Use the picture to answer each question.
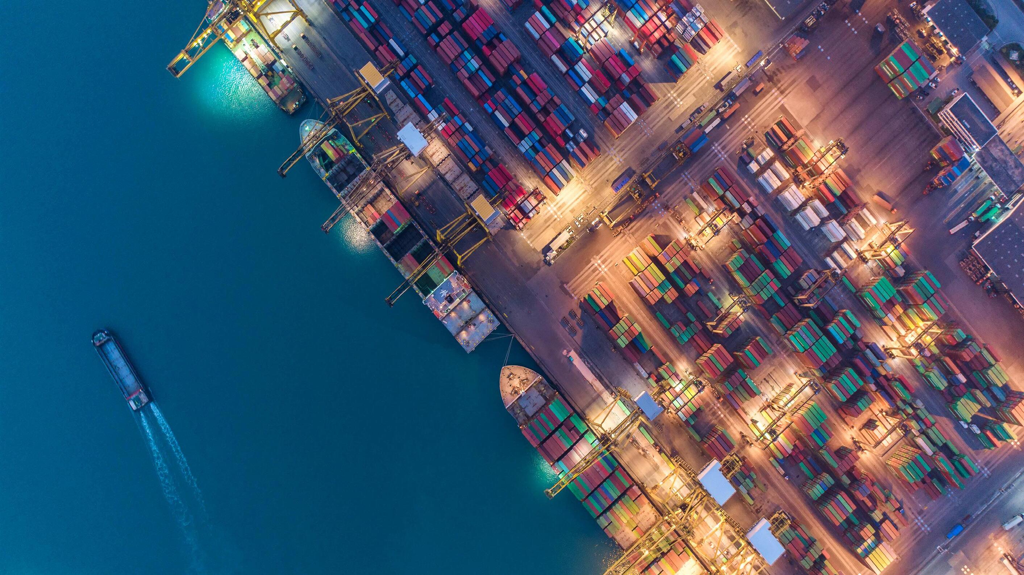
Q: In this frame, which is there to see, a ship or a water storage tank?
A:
ship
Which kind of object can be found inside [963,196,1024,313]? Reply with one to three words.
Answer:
building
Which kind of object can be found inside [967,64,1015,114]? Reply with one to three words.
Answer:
shed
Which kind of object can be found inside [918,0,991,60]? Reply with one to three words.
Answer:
building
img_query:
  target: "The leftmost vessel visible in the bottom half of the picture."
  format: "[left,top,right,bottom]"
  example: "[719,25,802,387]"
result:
[94,328,152,411]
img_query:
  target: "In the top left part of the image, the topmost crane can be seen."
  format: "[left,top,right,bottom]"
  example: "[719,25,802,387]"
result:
[165,0,302,81]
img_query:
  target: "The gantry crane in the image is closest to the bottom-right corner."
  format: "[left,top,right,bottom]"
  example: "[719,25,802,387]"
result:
[854,411,912,457]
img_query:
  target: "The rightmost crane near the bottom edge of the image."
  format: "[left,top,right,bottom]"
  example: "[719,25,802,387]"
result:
[689,501,791,575]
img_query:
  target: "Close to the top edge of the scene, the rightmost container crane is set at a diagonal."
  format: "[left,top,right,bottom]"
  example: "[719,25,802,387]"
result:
[629,7,675,55]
